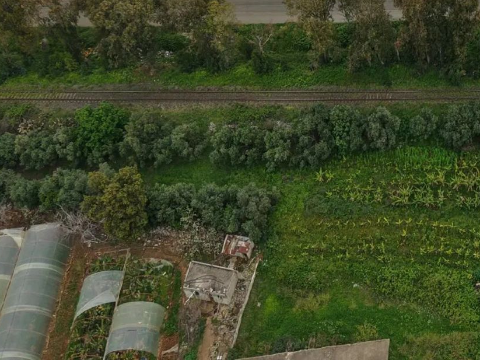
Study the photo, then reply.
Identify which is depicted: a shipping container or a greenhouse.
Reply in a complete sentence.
This aerial view contains a greenhouse.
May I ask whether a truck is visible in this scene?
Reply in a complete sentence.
No, this view has no truck in it.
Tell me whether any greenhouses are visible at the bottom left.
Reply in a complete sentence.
Yes, looking at the bottom left, one can make out a greenhouse.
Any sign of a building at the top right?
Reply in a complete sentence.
No, I can find no building at the top right.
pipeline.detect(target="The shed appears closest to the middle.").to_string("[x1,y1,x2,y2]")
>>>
[222,235,256,263]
